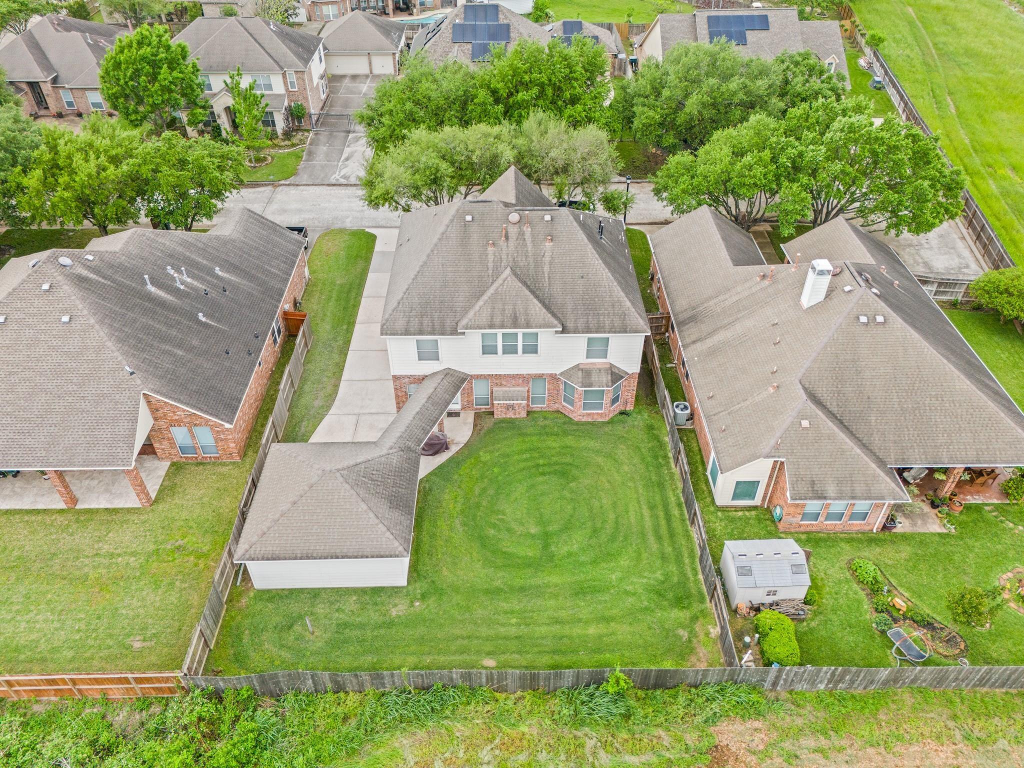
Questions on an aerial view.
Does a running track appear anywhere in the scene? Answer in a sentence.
No, no running track is visible in the scene.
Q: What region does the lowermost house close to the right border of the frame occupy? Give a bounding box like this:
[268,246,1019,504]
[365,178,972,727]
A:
[647,205,1024,535]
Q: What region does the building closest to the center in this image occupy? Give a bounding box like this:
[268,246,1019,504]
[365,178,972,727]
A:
[379,166,652,421]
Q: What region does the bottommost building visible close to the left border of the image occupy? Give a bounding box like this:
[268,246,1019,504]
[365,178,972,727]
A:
[0,208,309,508]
